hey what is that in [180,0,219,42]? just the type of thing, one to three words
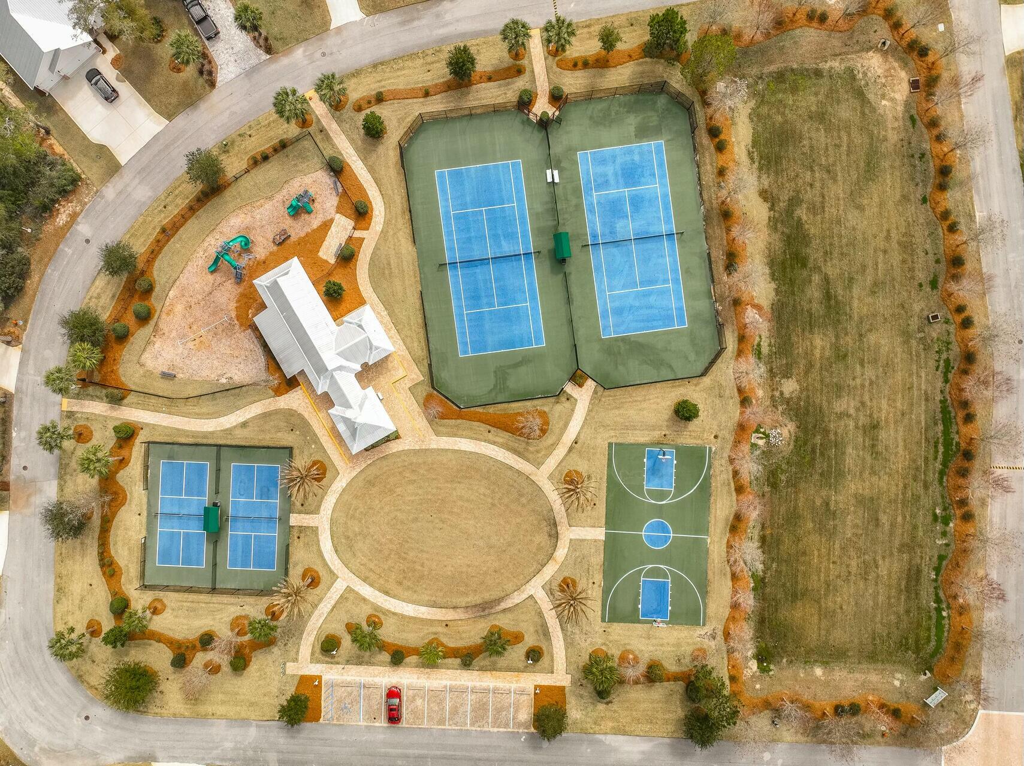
truck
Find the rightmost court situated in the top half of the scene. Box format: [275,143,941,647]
[545,91,719,388]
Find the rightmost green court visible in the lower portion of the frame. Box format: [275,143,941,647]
[602,443,711,626]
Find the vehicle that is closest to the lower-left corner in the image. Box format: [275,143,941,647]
[385,686,402,725]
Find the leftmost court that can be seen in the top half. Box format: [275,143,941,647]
[404,110,578,408]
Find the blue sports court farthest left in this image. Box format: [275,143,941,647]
[144,445,219,588]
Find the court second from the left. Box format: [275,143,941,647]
[215,447,291,591]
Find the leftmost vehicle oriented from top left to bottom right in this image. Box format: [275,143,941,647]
[85,65,119,105]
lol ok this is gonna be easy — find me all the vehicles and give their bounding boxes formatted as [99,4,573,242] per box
[180,0,219,42]
[385,686,402,725]
[85,65,119,105]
